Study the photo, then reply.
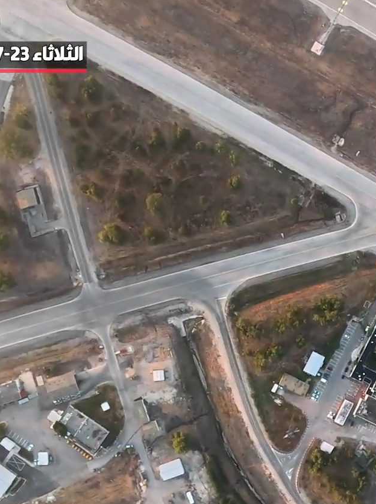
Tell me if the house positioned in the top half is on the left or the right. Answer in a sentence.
The house positioned in the top half appears in the left half of the scene.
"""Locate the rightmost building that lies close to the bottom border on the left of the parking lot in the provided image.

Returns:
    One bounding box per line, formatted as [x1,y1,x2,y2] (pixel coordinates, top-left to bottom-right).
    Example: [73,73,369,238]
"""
[157,458,185,481]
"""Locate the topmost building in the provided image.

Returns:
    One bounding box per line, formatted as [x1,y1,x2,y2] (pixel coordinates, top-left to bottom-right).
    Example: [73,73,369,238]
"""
[16,186,38,210]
